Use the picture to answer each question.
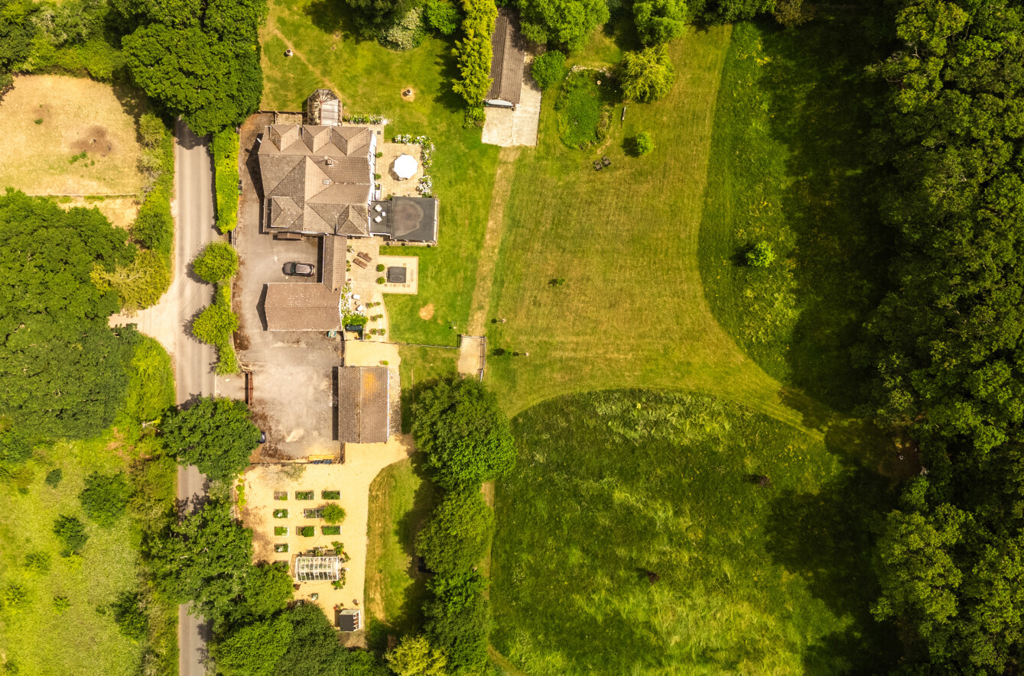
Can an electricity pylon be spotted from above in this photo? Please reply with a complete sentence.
No, no electricity pylon is visible in the view.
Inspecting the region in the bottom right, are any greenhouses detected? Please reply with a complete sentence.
No, no greenhouse appears in the bottom right.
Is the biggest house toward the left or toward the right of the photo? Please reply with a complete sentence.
It is on the left.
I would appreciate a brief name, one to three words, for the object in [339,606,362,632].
shed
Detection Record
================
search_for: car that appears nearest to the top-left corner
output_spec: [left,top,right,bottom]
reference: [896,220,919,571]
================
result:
[283,259,317,276]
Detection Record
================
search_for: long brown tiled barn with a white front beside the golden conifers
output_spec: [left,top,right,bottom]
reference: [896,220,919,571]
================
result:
[488,1,525,109]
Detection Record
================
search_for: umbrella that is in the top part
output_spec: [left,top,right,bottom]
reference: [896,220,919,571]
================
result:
[395,155,417,178]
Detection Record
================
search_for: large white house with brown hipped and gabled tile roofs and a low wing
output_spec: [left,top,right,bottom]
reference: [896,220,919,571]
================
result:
[256,88,438,331]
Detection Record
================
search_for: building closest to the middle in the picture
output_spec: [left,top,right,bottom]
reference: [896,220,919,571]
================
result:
[339,365,390,444]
